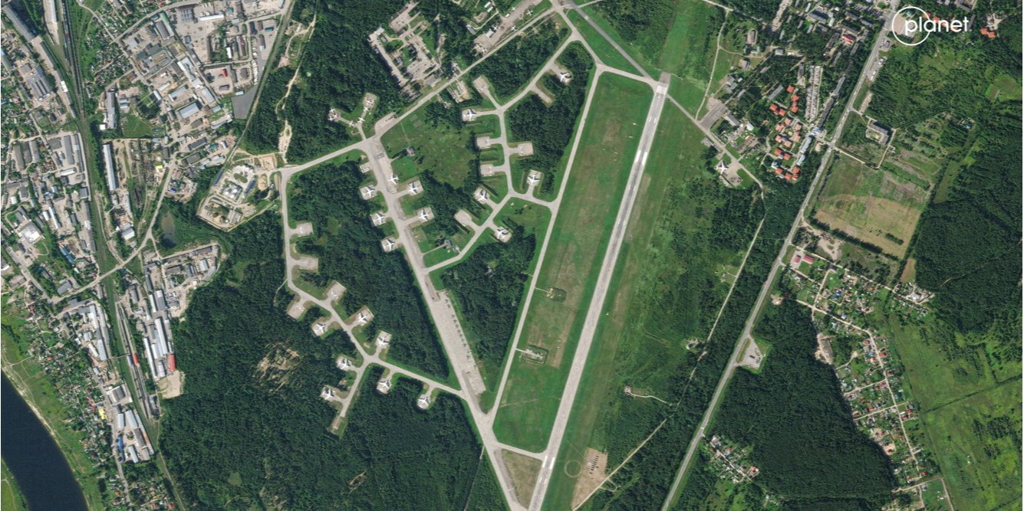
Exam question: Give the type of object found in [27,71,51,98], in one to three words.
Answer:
building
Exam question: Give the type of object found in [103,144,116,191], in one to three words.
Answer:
building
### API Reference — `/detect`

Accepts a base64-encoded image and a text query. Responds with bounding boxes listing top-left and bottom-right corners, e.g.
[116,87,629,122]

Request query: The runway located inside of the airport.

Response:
[528,82,670,511]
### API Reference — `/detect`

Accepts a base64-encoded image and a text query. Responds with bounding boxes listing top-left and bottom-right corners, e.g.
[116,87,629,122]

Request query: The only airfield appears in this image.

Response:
[271,0,744,511]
